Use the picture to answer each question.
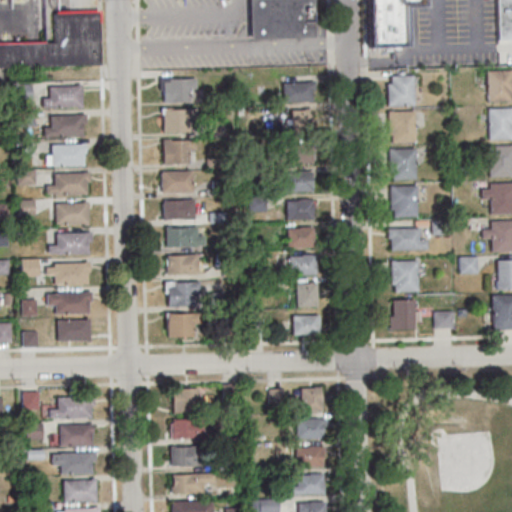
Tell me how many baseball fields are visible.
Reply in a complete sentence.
In total, 1 baseball field can be seen.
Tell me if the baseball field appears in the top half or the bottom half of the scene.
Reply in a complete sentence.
The baseball field is in the bottom half of the image.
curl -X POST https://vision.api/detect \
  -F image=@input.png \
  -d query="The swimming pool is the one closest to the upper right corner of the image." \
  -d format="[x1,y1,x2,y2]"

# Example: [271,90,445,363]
[472,240,487,254]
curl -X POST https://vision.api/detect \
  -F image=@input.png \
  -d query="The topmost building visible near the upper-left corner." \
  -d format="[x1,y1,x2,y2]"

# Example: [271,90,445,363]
[0,10,102,68]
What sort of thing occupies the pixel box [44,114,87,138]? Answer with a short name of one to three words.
house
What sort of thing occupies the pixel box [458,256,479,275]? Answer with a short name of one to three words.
building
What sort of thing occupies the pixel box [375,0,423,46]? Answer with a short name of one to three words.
building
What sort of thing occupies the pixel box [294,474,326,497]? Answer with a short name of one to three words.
house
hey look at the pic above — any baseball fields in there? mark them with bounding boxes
[430,428,494,494]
